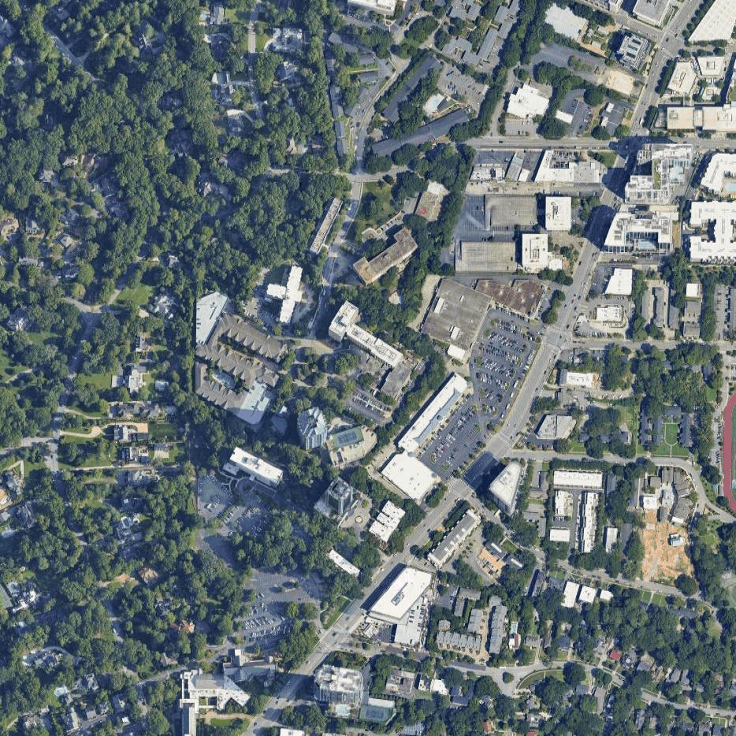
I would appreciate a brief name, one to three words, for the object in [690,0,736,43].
building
